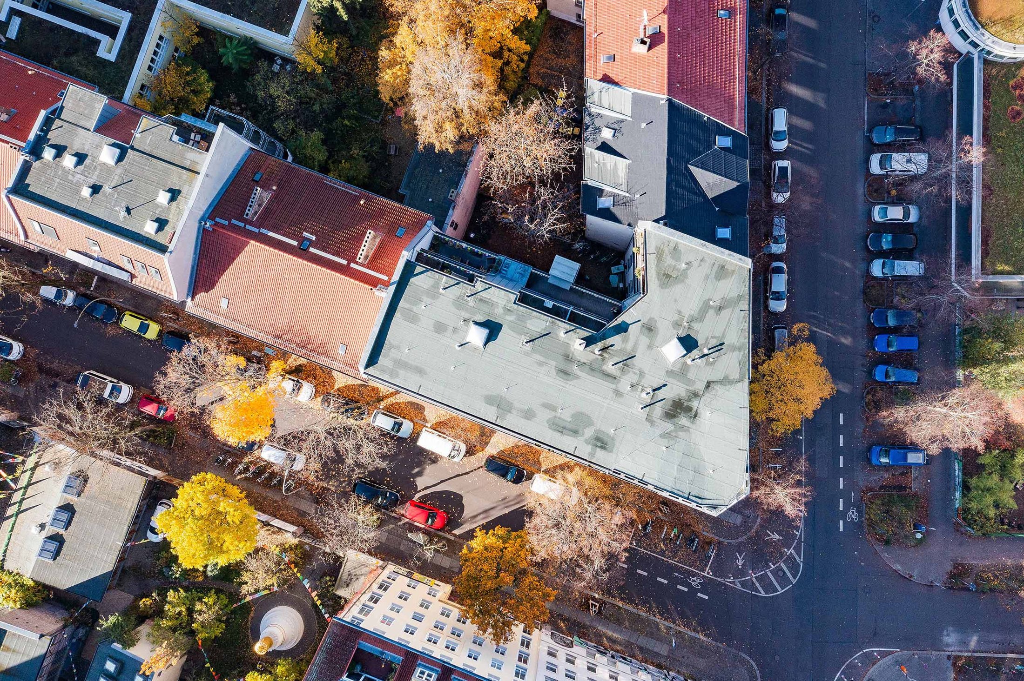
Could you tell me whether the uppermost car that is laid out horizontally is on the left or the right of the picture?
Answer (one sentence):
The uppermost car that is laid out horizontally appears in the right half of the scene.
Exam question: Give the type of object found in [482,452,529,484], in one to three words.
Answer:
car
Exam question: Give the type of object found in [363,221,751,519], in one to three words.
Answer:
building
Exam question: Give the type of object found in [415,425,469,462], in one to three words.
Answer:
vehicle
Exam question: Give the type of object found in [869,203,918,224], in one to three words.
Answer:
car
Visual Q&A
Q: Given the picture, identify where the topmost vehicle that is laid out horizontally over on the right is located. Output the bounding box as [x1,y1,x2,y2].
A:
[867,122,921,146]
